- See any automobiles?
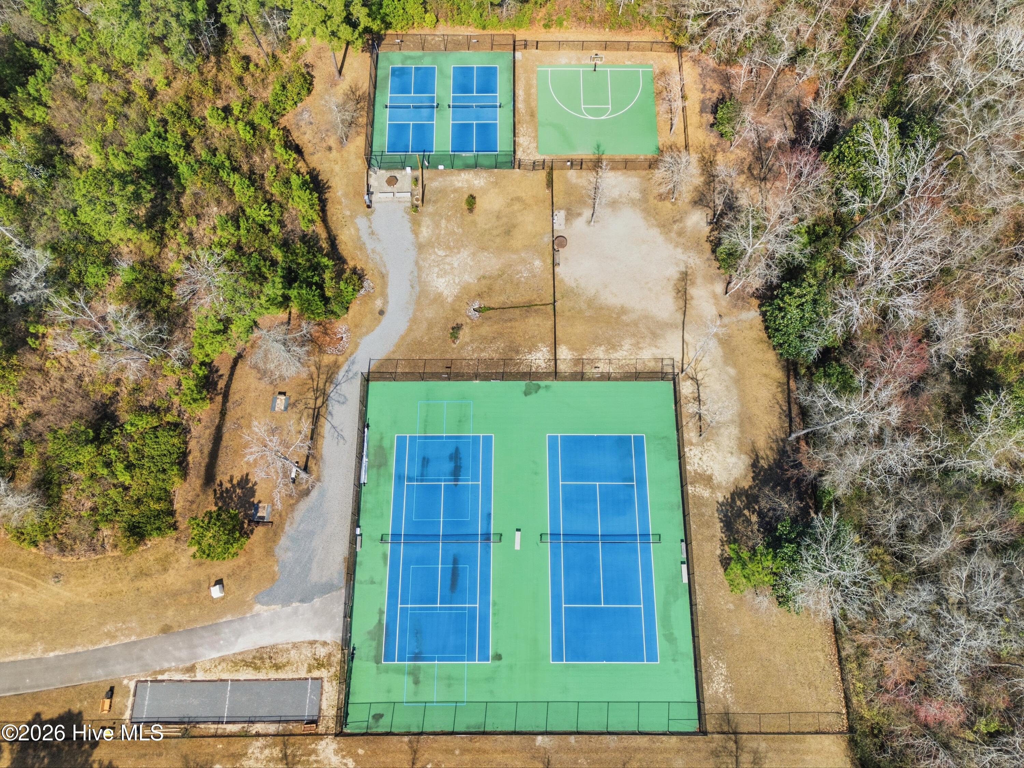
No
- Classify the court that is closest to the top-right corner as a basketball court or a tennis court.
basketball court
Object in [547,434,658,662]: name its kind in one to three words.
tennis court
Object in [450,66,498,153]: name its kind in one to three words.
sports court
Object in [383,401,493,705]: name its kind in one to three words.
tennis court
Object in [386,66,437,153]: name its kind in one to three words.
sports court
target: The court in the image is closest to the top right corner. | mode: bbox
[537,64,659,154]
